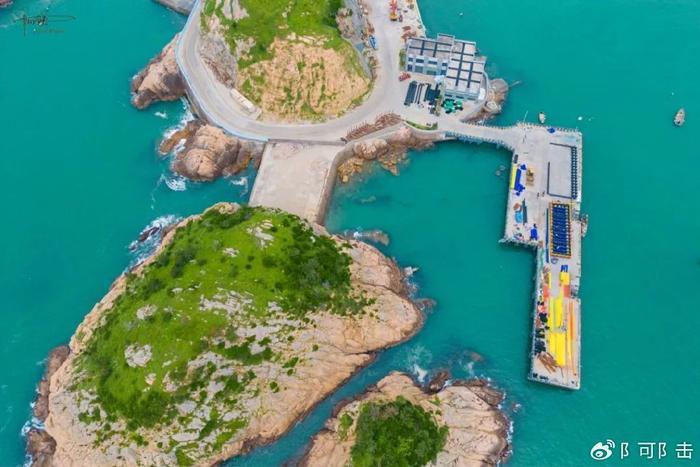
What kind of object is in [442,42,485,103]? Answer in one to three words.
building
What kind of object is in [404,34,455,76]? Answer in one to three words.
building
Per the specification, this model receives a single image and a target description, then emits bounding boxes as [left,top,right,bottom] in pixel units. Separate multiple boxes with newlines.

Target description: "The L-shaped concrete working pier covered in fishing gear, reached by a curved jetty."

[444,120,582,389]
